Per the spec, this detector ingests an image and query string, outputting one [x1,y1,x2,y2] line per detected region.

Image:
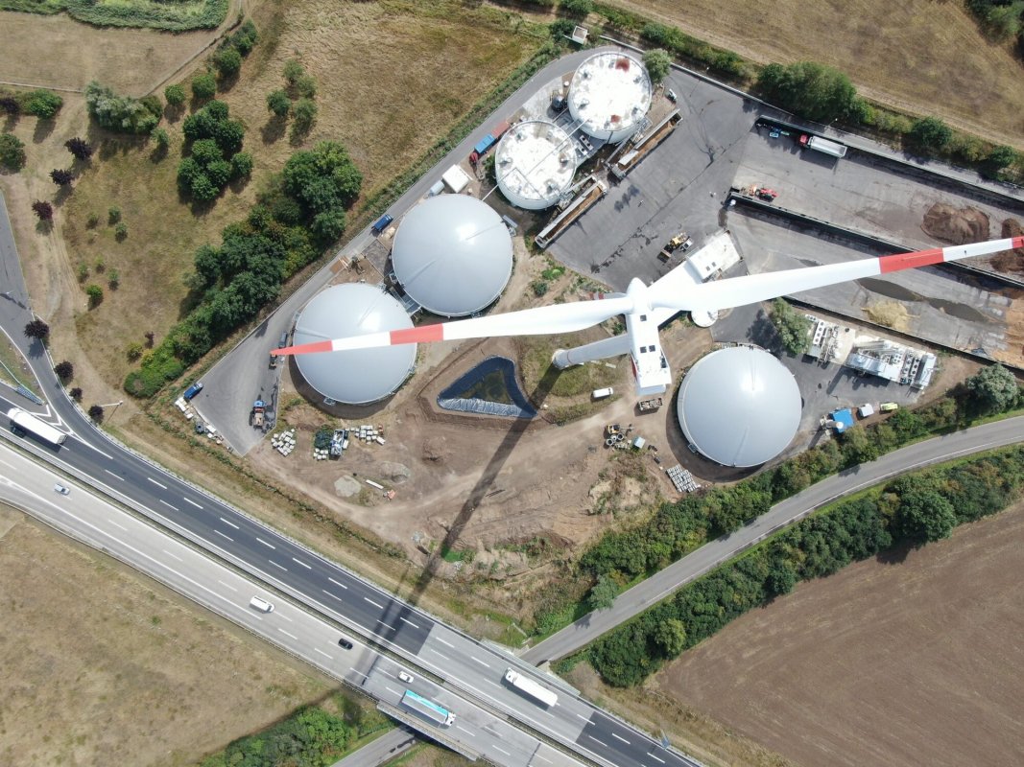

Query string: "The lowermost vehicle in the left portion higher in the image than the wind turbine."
[373,215,393,232]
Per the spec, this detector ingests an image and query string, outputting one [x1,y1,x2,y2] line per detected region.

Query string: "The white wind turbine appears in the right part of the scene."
[275,237,1024,398]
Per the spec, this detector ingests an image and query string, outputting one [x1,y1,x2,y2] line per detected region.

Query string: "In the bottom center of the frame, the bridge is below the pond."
[363,627,600,767]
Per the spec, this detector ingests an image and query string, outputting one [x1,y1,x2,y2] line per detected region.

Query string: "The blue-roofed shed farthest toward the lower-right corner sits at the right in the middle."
[828,407,856,433]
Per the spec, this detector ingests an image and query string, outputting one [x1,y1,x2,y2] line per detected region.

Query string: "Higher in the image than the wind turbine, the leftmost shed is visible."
[442,163,473,193]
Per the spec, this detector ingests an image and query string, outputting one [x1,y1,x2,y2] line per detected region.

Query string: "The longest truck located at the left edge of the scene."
[8,407,67,444]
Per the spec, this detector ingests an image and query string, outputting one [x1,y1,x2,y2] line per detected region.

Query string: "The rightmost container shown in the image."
[907,353,937,389]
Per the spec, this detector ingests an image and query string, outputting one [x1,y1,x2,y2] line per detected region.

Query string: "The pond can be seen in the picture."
[437,355,538,418]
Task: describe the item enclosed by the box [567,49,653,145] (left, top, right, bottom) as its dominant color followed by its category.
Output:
white storage tank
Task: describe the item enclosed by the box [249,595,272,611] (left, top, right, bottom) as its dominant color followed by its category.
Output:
white vehicle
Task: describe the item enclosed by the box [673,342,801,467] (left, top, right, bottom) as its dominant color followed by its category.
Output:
white storage tank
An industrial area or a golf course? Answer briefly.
industrial area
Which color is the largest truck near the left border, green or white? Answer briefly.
white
